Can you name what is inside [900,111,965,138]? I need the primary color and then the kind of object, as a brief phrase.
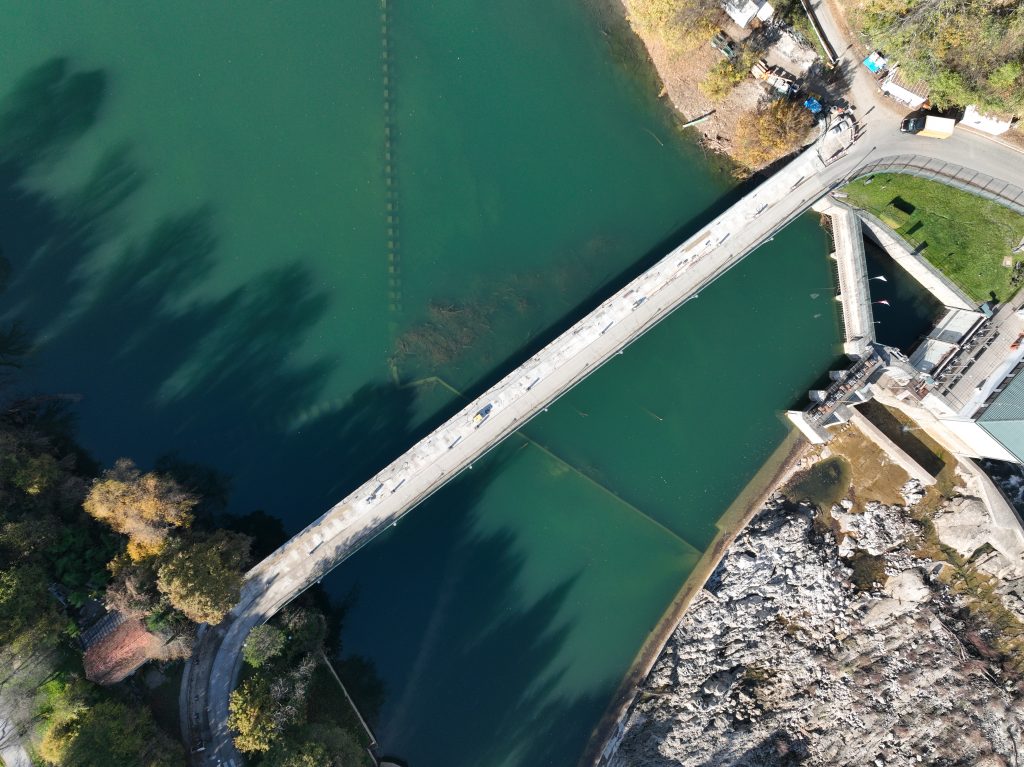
white truck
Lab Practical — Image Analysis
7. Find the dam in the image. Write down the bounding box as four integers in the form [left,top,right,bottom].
[579,427,811,767]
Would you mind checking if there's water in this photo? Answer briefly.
Yes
